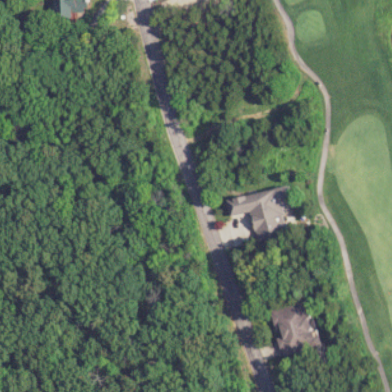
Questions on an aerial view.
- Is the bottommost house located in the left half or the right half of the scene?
right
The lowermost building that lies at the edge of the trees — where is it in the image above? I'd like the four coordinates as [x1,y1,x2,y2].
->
[272,306,324,358]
